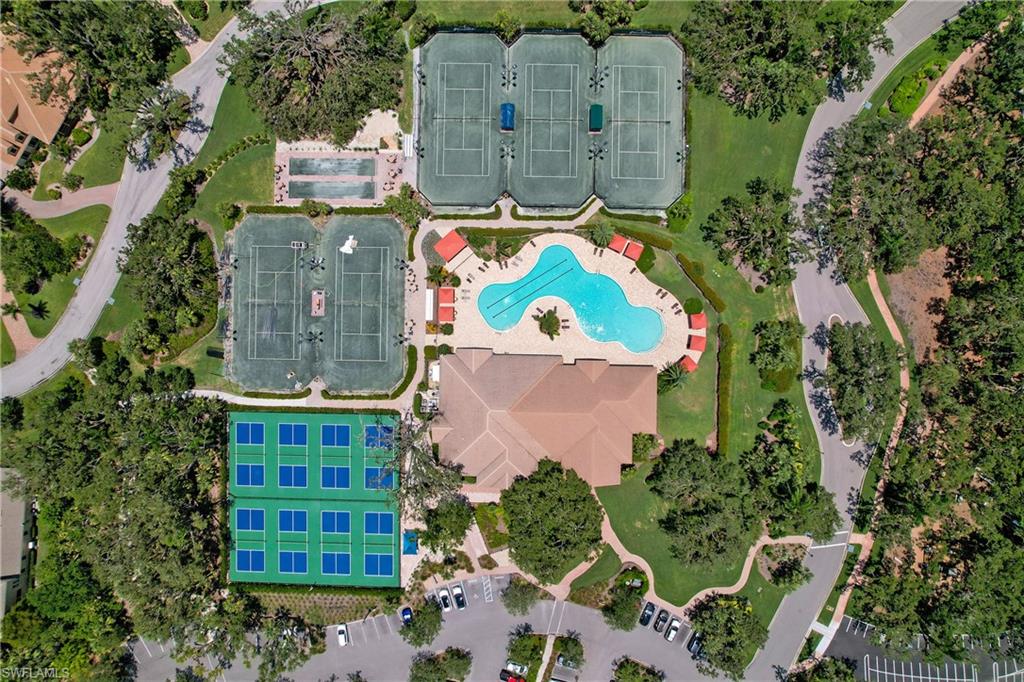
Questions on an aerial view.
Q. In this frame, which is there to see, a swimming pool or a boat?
swimming pool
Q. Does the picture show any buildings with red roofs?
Yes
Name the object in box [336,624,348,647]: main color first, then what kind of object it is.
white vehicle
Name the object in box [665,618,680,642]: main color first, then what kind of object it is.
white car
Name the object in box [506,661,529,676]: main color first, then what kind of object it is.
white car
